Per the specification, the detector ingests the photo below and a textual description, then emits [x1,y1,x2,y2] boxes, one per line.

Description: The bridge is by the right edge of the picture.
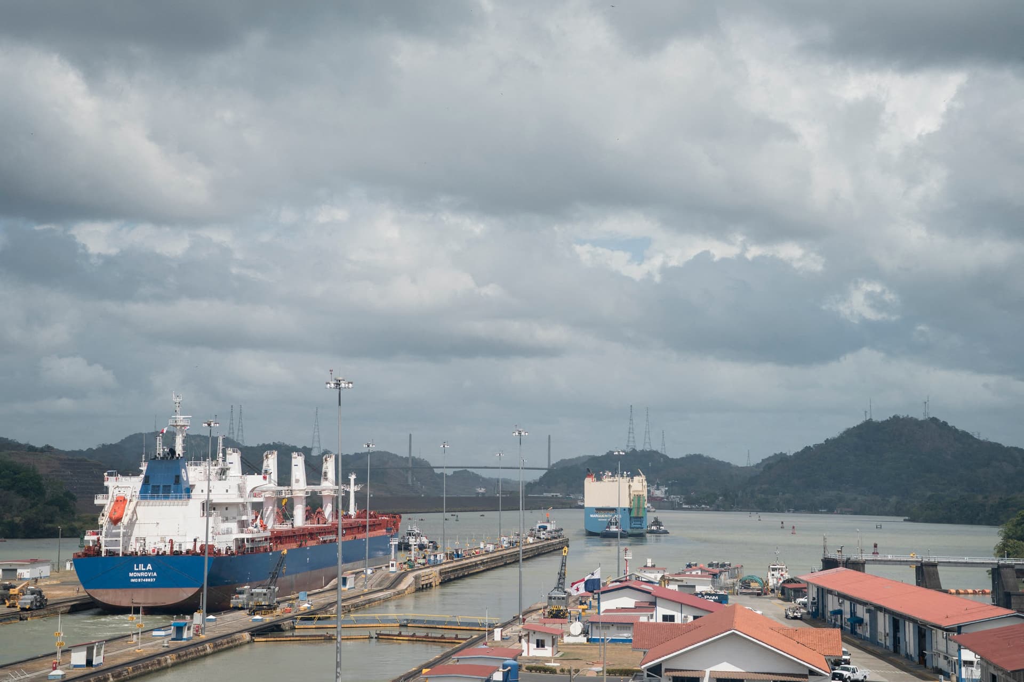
[820,529,1024,613]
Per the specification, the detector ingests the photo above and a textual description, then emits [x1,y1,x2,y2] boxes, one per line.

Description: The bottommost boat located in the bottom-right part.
[770,549,791,589]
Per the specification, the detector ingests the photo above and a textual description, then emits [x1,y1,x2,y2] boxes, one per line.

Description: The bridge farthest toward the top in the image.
[336,438,555,495]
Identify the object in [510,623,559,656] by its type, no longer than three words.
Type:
building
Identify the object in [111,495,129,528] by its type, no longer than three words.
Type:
boat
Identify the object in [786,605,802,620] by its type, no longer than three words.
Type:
vehicle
